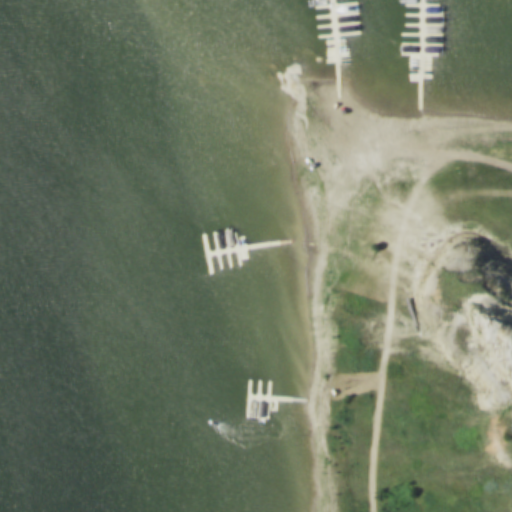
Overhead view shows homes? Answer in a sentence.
No, there is no home in the image.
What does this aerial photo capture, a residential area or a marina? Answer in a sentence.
It's a marina.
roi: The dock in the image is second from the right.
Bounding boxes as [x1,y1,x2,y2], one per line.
[314,0,362,101]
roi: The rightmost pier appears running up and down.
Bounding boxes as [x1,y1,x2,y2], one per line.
[400,0,445,112]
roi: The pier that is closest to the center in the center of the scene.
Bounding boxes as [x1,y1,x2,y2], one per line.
[202,228,293,274]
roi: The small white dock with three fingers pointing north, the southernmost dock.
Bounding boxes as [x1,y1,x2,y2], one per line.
[246,379,310,424]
